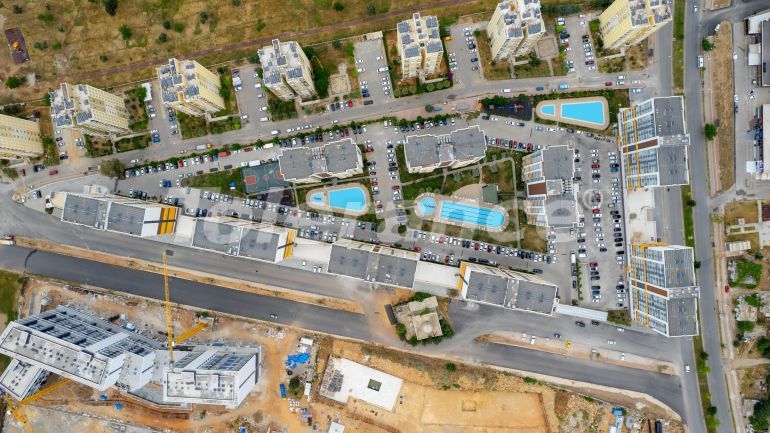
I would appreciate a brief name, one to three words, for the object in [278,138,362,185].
building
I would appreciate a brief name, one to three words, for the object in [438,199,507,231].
swimming pool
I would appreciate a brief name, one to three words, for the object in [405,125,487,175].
building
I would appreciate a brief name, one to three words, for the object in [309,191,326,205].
swimming pool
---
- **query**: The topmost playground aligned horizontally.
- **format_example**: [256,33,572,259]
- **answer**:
[486,98,531,120]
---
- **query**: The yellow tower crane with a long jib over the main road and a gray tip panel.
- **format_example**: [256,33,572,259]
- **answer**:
[162,249,211,366]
